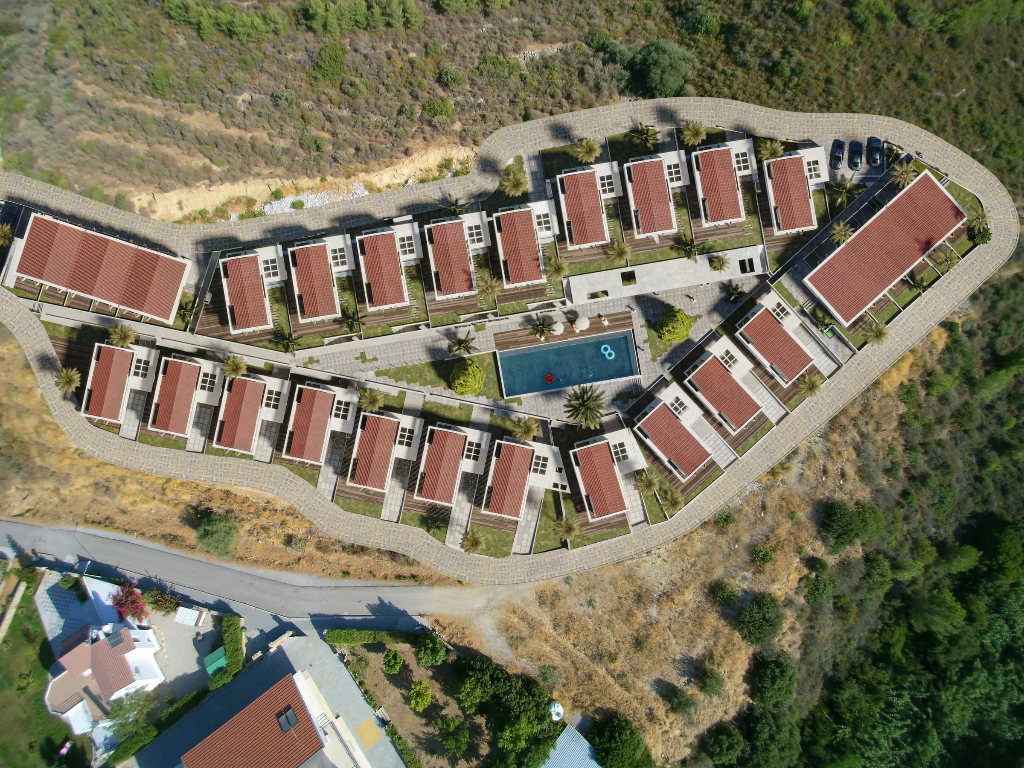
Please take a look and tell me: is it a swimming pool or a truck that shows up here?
swimming pool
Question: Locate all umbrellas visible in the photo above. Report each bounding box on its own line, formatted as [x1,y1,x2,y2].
[551,322,564,335]
[549,704,564,719]
[576,316,590,330]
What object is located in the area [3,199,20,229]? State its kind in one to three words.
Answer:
car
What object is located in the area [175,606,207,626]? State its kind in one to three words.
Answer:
shed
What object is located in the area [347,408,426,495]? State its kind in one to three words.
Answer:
house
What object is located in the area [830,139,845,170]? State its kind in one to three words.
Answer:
car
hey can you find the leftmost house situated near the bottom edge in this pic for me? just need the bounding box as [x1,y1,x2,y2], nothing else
[45,621,169,753]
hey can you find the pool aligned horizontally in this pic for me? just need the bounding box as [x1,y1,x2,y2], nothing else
[500,339,631,397]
